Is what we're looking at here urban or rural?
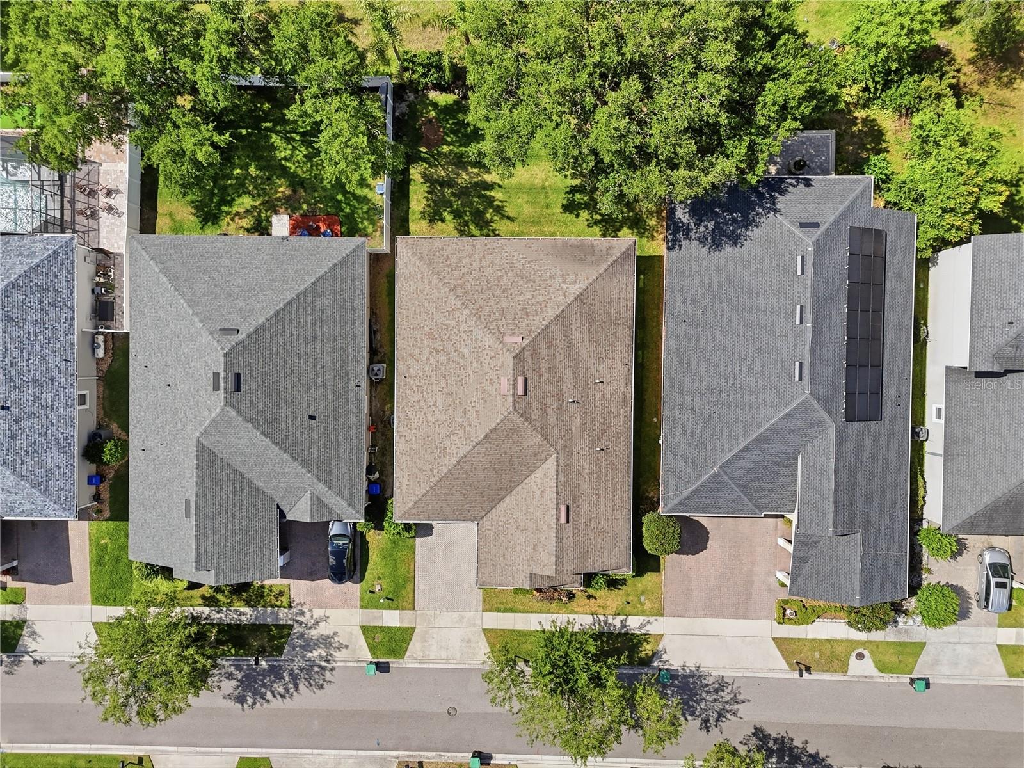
urban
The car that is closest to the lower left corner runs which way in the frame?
vertically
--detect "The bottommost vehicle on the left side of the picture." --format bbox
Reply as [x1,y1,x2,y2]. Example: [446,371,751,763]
[325,521,357,584]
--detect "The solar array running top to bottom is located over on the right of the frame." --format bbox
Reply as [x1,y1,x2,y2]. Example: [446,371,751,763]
[843,226,887,420]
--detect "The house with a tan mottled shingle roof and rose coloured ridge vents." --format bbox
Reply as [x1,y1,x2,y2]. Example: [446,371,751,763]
[393,236,638,591]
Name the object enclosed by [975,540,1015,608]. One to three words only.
car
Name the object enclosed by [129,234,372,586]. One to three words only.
house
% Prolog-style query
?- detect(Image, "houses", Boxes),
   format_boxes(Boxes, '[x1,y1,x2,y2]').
[0,232,101,574]
[129,234,372,586]
[659,175,918,607]
[922,232,1024,536]
[393,236,638,591]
